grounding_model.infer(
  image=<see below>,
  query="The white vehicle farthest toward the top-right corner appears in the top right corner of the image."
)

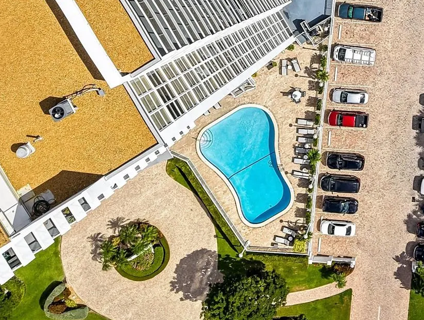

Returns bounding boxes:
[332,46,377,65]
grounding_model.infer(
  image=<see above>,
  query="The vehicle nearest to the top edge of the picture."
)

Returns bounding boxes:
[337,2,384,21]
